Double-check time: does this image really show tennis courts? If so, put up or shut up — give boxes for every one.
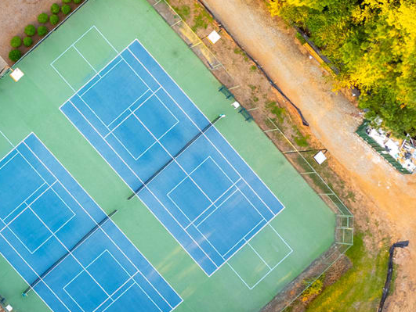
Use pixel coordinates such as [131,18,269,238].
[51,26,294,290]
[0,131,183,312]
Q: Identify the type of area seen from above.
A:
sports ground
